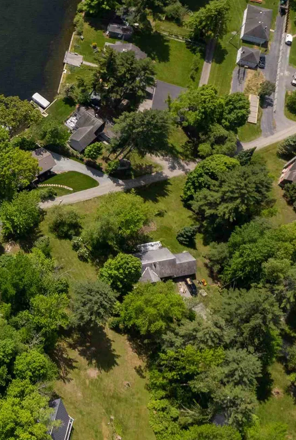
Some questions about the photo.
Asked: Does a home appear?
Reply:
Yes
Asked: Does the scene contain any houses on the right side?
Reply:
Yes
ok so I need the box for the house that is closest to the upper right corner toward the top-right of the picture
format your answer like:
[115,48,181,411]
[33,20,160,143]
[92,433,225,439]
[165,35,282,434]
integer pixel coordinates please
[241,10,274,49]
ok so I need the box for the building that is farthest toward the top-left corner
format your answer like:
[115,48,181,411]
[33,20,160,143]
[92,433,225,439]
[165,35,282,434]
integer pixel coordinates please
[105,22,132,41]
